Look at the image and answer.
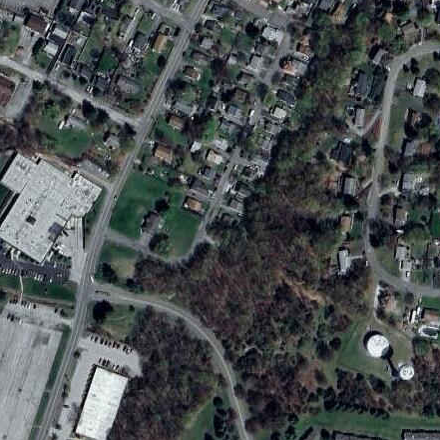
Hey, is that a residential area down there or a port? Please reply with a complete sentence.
The area seen from above is a residential area.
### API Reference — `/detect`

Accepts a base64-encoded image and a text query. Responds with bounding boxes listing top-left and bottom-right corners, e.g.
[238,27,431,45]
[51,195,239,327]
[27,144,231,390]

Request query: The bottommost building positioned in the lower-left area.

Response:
[74,365,128,440]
